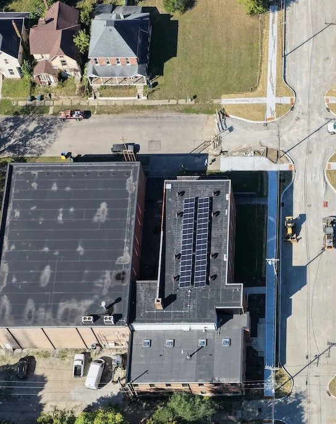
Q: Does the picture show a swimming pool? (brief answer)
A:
No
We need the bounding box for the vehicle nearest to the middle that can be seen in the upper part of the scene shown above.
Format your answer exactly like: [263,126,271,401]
[107,141,141,156]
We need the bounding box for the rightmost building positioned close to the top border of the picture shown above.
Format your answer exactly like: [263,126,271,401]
[86,3,155,88]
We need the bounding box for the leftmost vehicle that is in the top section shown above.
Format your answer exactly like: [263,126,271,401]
[58,110,87,123]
